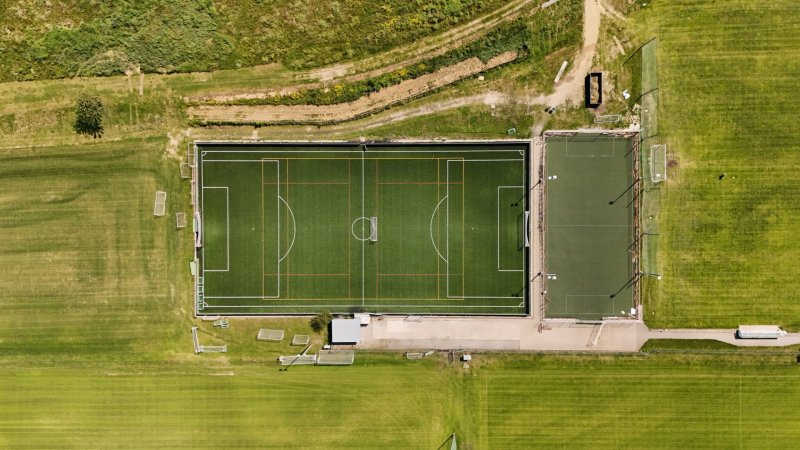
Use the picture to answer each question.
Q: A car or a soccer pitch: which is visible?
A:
soccer pitch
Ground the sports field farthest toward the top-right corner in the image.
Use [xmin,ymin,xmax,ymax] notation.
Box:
[646,0,800,331]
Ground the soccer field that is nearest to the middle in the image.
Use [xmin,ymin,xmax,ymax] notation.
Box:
[197,144,529,315]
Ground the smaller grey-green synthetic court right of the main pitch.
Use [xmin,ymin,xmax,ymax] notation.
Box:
[547,135,634,319]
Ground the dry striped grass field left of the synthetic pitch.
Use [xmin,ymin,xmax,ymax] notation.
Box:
[0,140,189,353]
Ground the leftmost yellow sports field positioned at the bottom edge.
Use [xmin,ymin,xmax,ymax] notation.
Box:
[0,364,460,450]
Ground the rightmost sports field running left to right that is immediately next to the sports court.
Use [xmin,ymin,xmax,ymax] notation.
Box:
[486,367,800,450]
